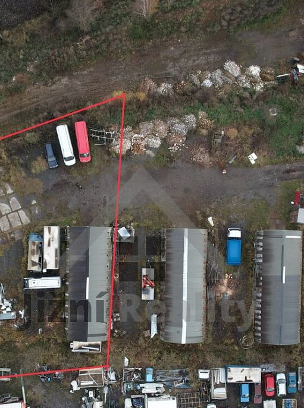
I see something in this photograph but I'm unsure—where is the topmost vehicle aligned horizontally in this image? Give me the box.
[23,277,62,289]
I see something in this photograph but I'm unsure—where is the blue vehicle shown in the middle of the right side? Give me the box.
[226,227,242,265]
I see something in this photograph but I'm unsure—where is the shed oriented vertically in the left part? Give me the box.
[63,226,113,343]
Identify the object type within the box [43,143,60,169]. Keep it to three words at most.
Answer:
vehicle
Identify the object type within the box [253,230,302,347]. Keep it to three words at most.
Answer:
shed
